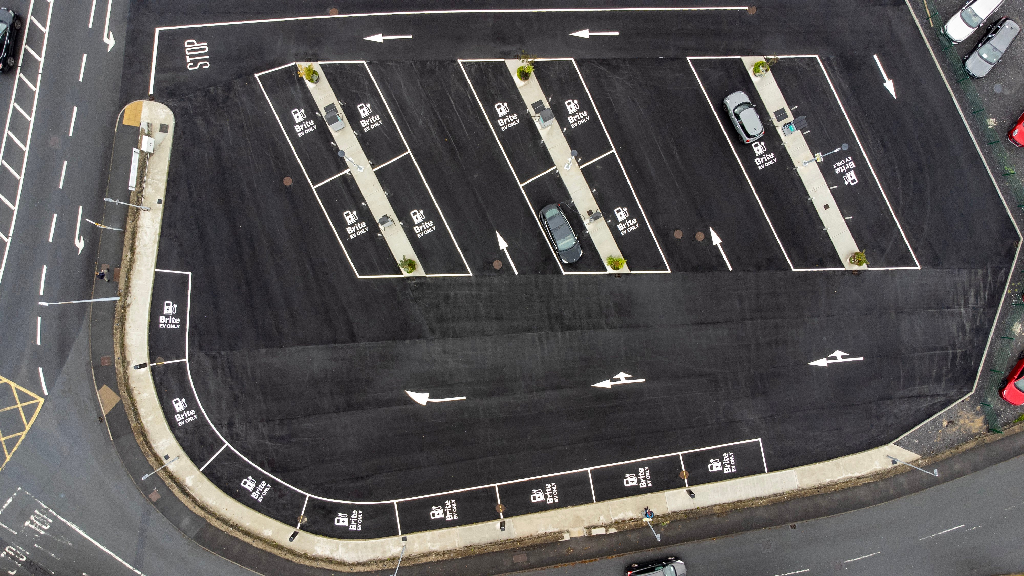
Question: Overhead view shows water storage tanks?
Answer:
No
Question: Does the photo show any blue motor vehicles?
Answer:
No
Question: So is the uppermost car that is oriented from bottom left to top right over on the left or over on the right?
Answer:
right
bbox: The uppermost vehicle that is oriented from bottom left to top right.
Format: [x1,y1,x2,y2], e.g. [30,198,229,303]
[943,0,1006,44]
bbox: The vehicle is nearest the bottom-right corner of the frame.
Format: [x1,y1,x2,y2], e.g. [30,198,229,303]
[1000,351,1024,402]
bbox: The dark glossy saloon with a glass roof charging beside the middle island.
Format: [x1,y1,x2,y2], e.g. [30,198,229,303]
[541,201,583,265]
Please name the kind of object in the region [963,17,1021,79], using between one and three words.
car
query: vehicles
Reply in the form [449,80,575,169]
[963,17,1021,79]
[943,0,1006,44]
[1000,351,1024,402]
[723,90,766,144]
[541,201,583,265]
[625,556,687,576]
[1011,119,1024,149]
[0,8,22,72]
